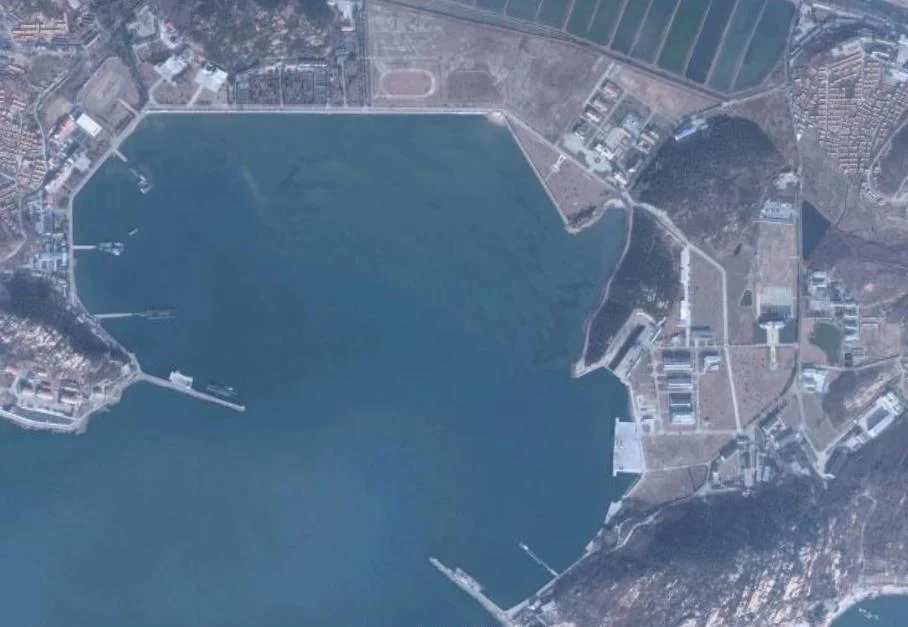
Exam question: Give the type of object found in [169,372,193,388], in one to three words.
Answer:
ship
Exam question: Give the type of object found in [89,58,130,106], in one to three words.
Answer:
sports field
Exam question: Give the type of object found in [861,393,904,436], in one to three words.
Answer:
building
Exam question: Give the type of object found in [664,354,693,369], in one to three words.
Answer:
building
